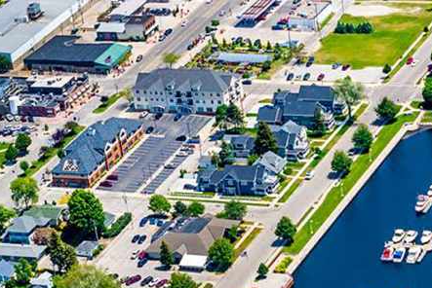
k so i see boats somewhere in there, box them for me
[392,227,407,243]
[403,243,423,266]
[379,244,394,263]
[413,195,429,214]
[391,245,407,265]
[420,228,432,245]
[406,228,420,245]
